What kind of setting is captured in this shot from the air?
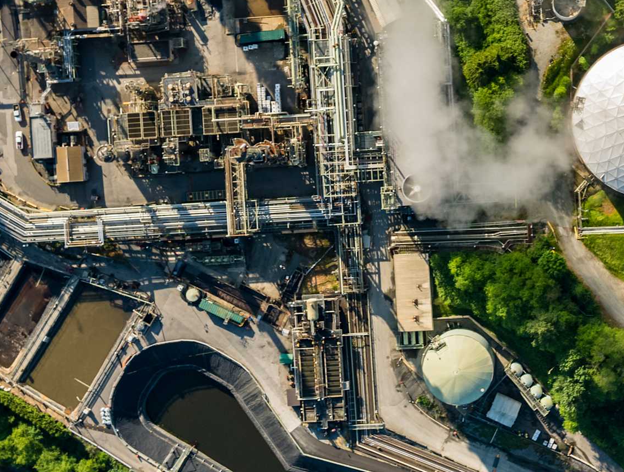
industrial area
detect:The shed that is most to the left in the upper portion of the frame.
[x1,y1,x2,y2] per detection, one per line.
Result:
[32,116,59,160]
